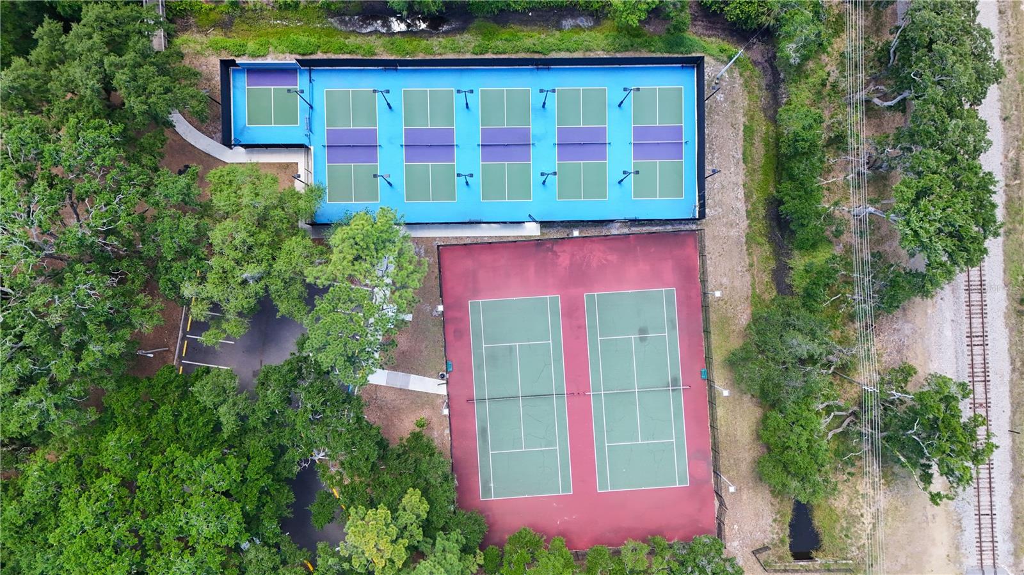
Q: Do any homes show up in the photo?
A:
No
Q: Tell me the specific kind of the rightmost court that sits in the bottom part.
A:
tennis court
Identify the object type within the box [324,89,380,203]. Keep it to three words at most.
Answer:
sports court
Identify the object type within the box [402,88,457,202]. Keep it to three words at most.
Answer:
sports court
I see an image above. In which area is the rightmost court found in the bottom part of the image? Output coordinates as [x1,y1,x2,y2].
[585,288,689,492]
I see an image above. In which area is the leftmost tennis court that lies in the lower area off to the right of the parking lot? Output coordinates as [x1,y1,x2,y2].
[469,295,572,500]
